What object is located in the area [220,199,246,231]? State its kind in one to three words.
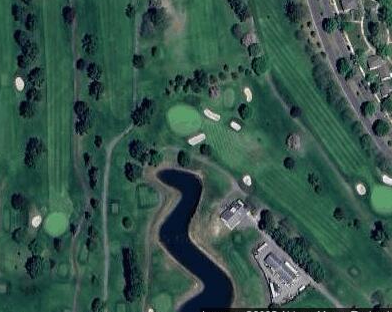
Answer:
barn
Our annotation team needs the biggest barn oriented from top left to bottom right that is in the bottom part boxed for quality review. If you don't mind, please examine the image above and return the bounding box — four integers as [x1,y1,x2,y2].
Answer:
[264,252,297,285]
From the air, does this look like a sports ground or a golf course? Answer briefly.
golf course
